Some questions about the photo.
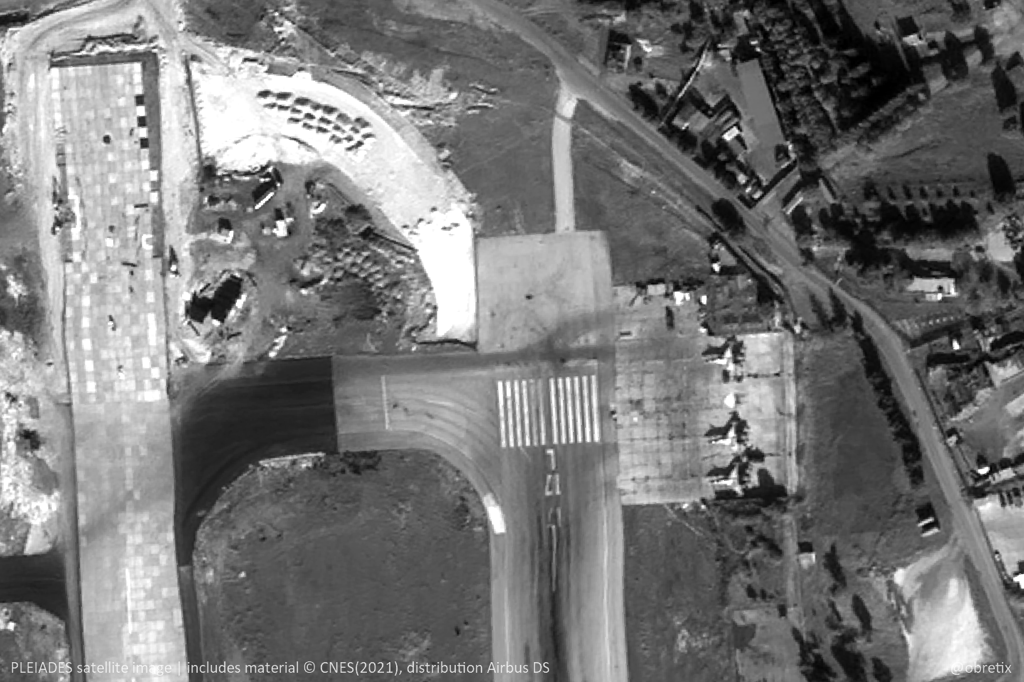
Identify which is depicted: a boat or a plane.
plane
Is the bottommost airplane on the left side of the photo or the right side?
right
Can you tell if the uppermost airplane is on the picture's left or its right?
right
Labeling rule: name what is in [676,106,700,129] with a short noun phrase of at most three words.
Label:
house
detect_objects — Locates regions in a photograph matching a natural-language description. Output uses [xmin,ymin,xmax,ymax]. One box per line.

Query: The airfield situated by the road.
[0,62,798,682]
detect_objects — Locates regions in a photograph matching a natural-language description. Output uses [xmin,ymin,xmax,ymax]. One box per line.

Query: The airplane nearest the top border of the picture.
[706,348,745,373]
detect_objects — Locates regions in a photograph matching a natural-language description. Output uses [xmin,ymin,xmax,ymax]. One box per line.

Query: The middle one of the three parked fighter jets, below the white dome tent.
[712,427,750,452]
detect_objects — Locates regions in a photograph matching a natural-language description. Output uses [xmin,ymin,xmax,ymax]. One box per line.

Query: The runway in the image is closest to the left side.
[51,62,190,682]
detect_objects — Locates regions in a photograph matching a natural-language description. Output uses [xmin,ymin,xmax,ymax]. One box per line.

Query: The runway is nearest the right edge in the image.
[491,346,628,682]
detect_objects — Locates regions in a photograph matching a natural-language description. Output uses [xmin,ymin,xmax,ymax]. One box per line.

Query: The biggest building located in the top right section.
[738,59,785,151]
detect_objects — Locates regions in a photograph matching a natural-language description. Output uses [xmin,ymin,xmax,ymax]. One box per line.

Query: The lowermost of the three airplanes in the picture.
[713,469,752,494]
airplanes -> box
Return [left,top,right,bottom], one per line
[712,427,750,452]
[706,348,745,373]
[713,469,752,494]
